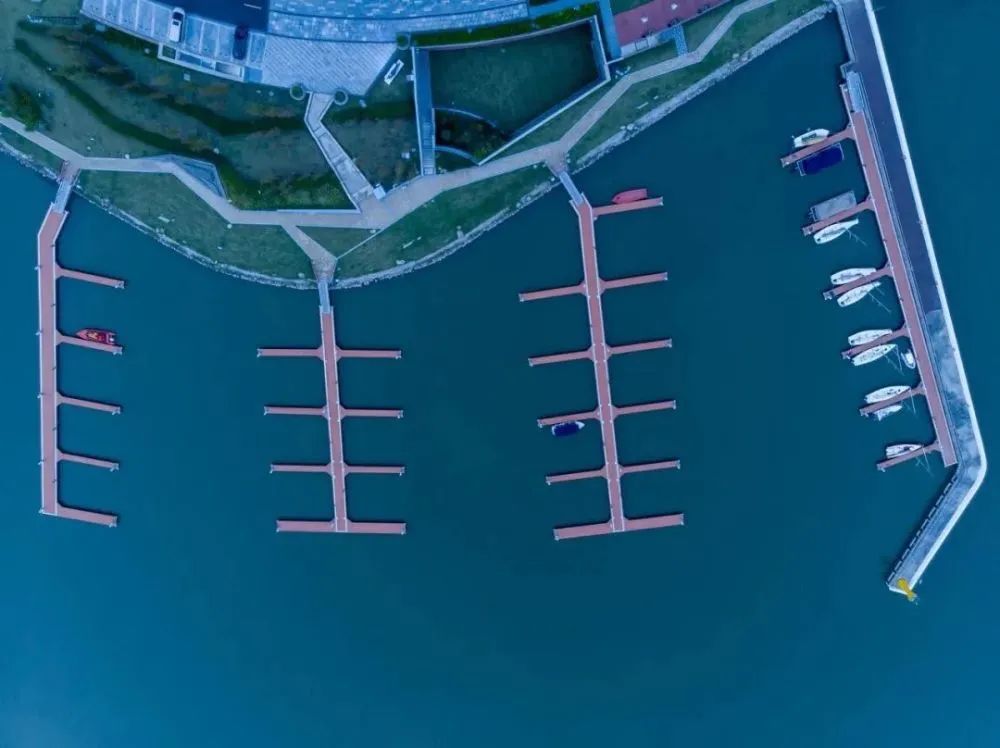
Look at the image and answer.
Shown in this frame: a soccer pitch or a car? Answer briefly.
car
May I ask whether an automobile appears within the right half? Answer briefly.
No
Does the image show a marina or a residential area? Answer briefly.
marina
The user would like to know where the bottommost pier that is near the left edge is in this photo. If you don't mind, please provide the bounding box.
[34,203,126,529]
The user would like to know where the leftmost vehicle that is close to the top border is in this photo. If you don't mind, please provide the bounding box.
[162,6,186,44]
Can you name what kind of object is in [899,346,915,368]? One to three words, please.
boat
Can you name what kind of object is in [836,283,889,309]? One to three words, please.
boat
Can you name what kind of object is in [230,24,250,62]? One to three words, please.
car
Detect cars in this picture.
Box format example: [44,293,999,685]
[230,24,250,62]
[162,6,186,44]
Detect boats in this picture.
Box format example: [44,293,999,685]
[792,129,829,148]
[75,329,118,345]
[885,443,931,471]
[611,187,647,203]
[807,190,856,222]
[899,346,915,368]
[793,143,845,177]
[852,345,903,373]
[864,386,915,413]
[550,422,585,434]
[836,283,889,309]
[829,266,881,288]
[847,329,897,353]
[874,405,910,426]
[812,221,862,246]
